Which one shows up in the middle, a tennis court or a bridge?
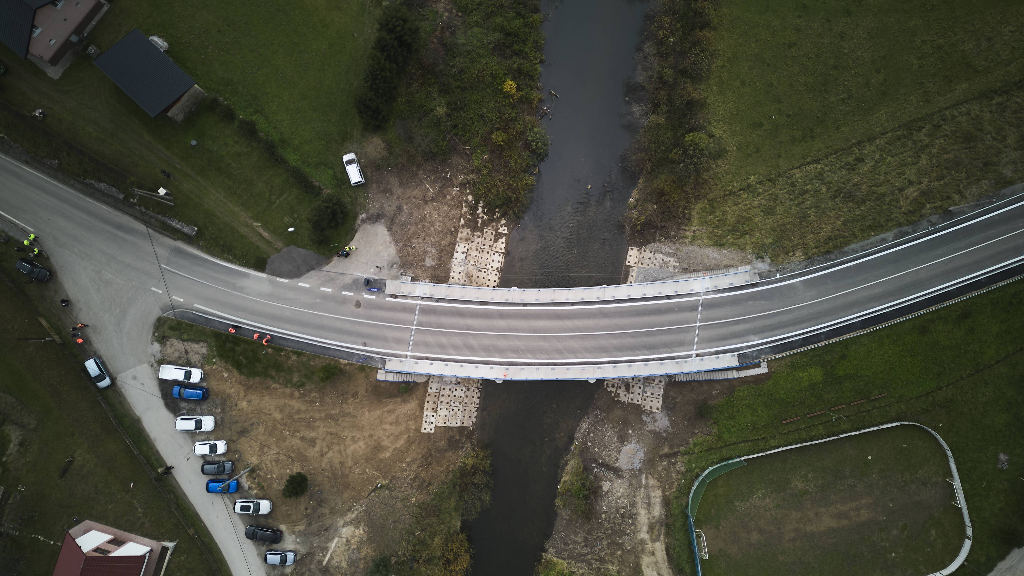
bridge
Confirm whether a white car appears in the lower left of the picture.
Yes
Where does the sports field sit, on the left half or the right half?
right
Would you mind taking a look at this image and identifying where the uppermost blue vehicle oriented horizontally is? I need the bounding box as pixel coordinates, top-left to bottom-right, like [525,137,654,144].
[169,384,209,403]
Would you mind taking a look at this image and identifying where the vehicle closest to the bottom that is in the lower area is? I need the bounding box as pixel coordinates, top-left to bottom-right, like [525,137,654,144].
[261,550,296,570]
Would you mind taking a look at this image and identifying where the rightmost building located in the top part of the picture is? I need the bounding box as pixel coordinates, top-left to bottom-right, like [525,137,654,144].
[93,28,203,119]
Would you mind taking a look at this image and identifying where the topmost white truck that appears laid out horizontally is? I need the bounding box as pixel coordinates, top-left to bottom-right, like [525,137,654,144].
[153,364,203,386]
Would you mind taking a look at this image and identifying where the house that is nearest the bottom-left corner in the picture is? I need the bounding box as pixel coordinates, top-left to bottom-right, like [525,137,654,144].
[53,530,151,576]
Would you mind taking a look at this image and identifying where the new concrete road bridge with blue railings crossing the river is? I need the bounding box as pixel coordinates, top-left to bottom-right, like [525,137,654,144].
[383,269,766,384]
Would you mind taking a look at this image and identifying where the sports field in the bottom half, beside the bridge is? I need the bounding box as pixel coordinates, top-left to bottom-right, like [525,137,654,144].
[686,421,979,576]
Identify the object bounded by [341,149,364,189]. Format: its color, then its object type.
white car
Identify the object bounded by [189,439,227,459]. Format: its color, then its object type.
white car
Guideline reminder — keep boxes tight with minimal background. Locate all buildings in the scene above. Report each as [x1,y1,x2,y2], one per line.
[53,530,151,576]
[0,0,107,67]
[93,28,203,119]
